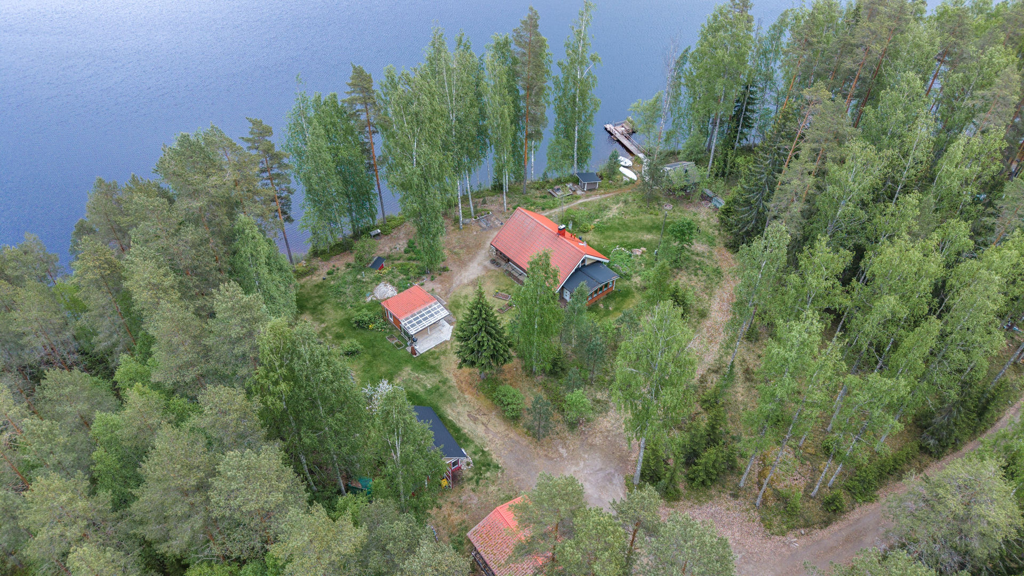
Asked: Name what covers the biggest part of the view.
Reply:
trees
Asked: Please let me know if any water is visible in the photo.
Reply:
Yes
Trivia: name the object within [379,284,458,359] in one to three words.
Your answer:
building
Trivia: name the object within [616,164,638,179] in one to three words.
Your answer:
boat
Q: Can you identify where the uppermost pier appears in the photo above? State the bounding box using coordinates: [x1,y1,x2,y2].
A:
[604,117,648,155]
